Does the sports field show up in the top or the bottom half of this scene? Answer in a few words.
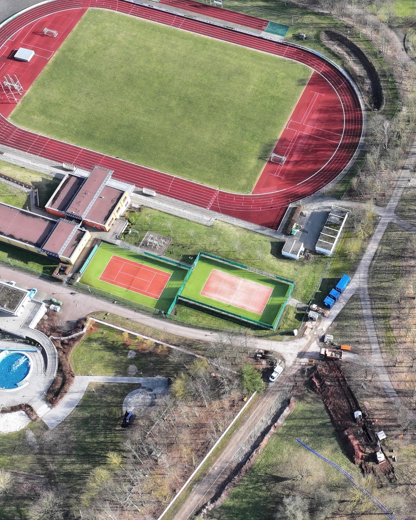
top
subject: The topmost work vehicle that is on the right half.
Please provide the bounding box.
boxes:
[311,301,328,314]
